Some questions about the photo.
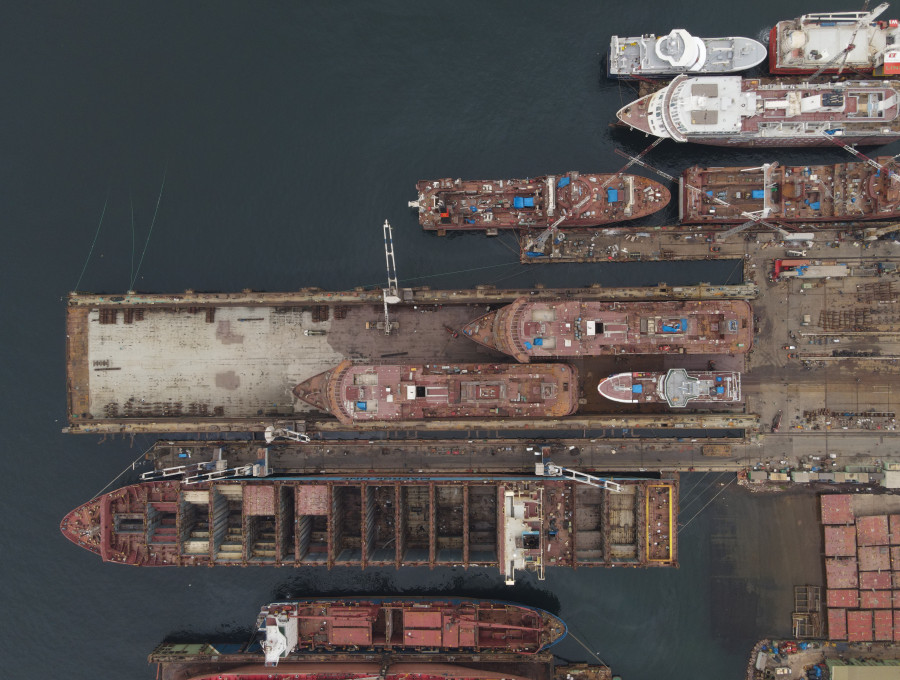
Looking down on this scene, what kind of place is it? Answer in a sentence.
What you see here is a port.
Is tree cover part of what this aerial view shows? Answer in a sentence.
No, there's no tree cover in this view.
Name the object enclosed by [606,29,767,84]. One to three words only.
ship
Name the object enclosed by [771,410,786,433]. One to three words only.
vehicle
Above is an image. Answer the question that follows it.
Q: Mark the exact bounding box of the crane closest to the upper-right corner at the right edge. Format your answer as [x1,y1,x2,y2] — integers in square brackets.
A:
[845,1,894,40]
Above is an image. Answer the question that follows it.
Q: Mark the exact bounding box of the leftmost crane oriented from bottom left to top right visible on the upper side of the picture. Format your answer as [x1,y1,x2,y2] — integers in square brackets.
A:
[519,140,661,258]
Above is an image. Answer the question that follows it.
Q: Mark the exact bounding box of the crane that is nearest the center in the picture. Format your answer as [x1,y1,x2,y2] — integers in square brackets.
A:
[382,219,413,335]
